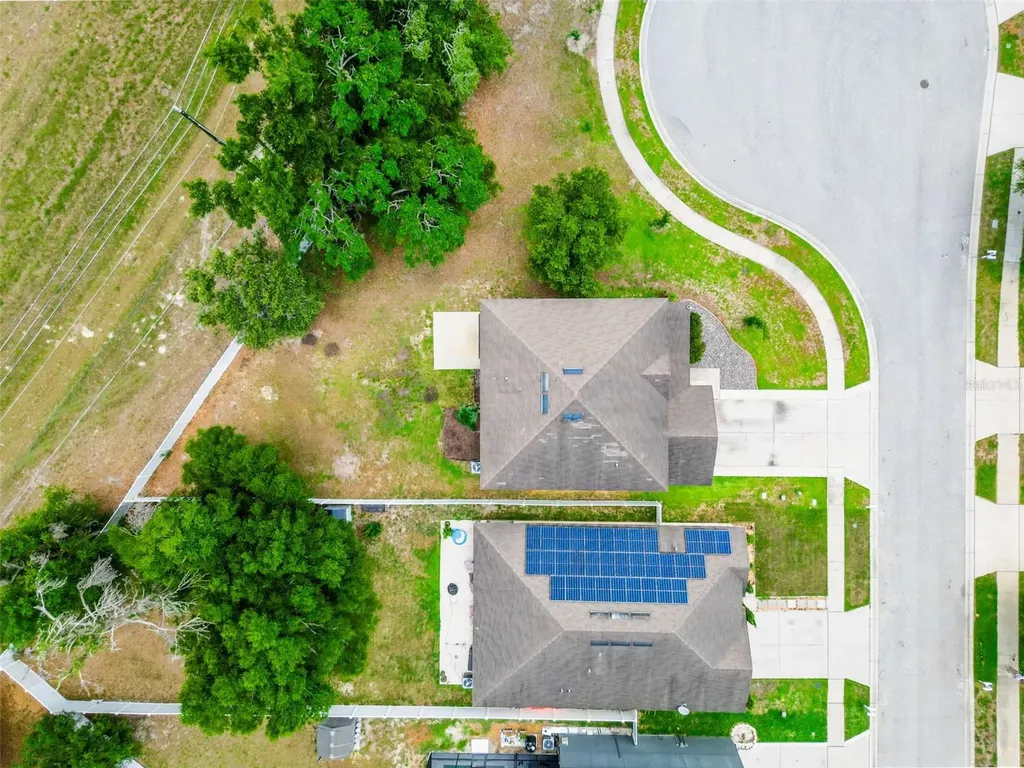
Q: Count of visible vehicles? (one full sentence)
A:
The picture shows no vehicles.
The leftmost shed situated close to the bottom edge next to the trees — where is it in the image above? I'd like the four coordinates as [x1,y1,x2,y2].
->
[317,718,360,764]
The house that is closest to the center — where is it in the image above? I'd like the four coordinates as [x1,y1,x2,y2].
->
[479,298,718,491]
